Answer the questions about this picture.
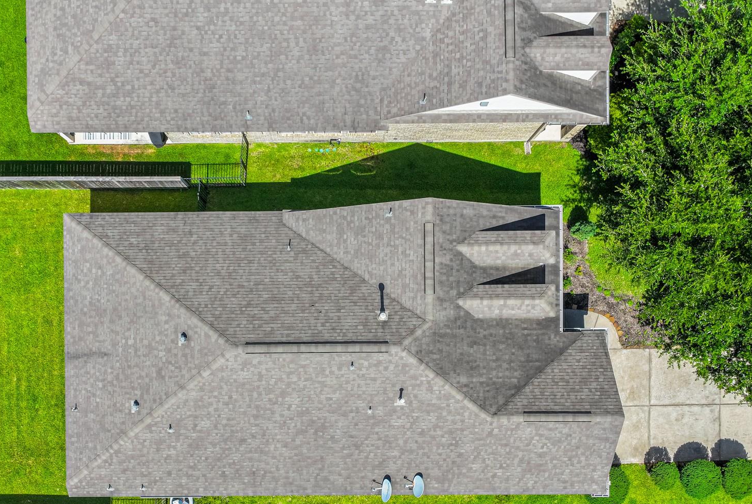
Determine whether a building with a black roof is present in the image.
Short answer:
No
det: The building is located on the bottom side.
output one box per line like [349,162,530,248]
[63,197,626,498]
